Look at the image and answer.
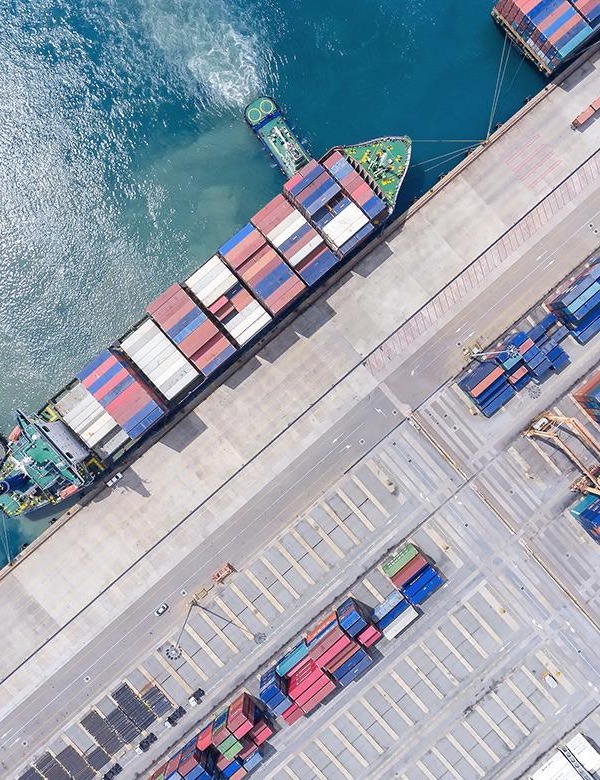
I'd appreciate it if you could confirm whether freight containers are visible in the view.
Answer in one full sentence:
Yes, the image includes a freight container.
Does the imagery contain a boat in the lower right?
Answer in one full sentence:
No, I can find no boat in the lower right.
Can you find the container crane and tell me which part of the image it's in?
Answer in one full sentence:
You can find the container crane in the right area of the picture.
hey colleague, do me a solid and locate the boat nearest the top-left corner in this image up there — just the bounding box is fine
[244,98,311,181]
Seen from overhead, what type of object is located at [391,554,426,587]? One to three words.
shipping container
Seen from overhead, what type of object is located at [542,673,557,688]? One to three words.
vehicle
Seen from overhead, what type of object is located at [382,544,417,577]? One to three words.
shipping container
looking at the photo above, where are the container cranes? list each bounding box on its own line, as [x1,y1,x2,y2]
[522,411,600,498]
